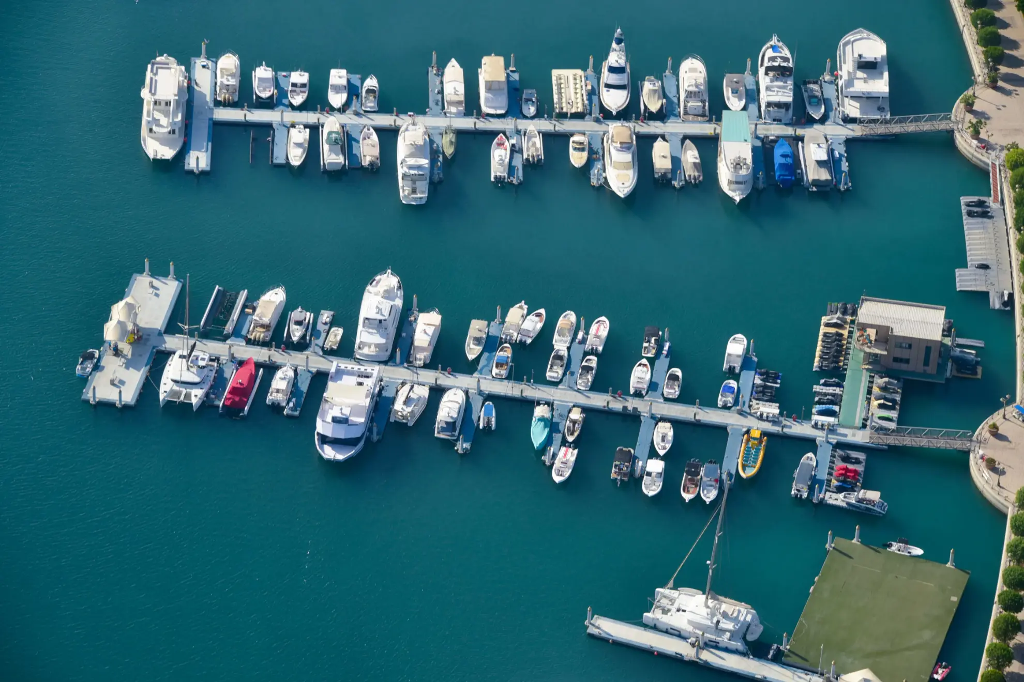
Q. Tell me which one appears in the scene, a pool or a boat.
boat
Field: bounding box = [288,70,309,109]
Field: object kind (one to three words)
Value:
boat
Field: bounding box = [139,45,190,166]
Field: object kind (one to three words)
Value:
vessel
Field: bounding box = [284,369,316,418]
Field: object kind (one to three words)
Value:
pier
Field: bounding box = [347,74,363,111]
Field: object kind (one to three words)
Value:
pier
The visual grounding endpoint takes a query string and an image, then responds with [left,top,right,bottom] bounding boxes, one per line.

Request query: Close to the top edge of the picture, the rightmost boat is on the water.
[836,26,888,123]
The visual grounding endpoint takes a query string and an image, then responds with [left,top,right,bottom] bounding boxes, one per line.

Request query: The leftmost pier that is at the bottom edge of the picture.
[587,615,696,663]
